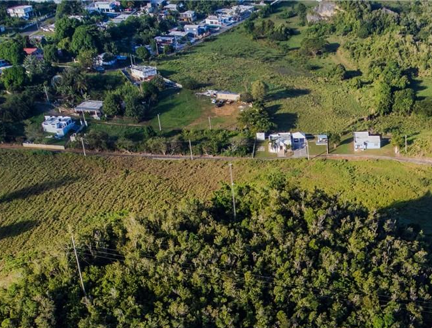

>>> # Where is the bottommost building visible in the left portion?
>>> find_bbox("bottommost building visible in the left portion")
[42,111,82,138]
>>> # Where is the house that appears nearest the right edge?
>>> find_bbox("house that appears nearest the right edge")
[351,129,382,150]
